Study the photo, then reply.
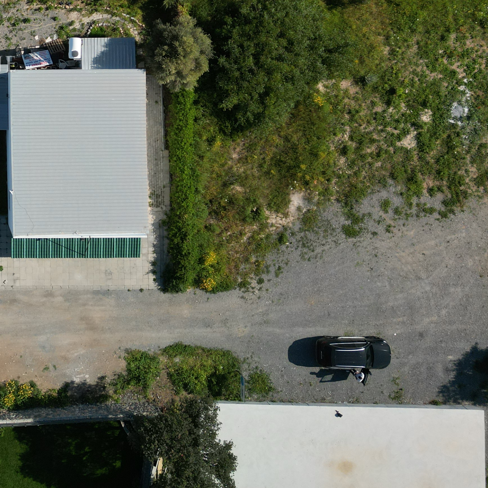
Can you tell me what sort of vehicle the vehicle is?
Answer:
automobile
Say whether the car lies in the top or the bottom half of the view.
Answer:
bottom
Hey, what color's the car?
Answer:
black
